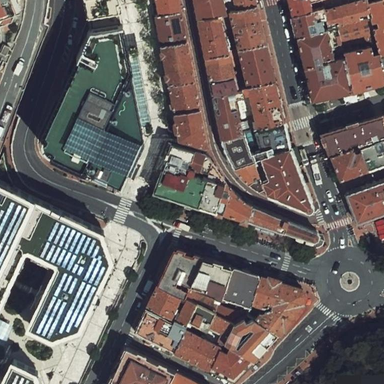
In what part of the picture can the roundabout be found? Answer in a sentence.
The roundabout is in the bottom right part of the image.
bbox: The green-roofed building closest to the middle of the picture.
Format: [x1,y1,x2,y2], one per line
[152,158,204,208]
